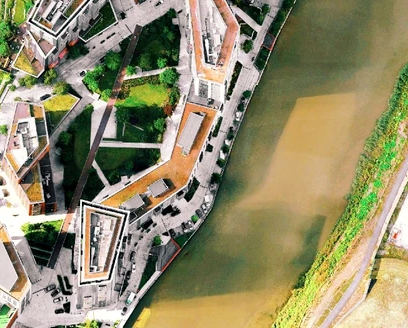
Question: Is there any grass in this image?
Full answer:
Yes, grass shows up in the scene.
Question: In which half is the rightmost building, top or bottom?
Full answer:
It is in the top half that the rightmost building appears.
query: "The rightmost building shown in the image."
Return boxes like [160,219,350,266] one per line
[184,0,239,109]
